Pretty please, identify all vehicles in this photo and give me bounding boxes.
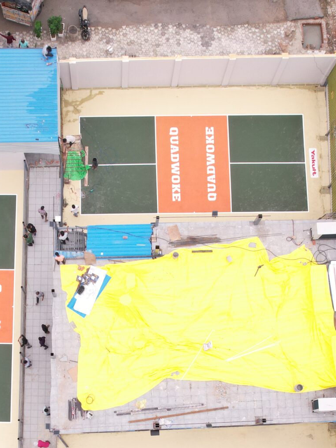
[2,0,39,30]
[80,2,95,39]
